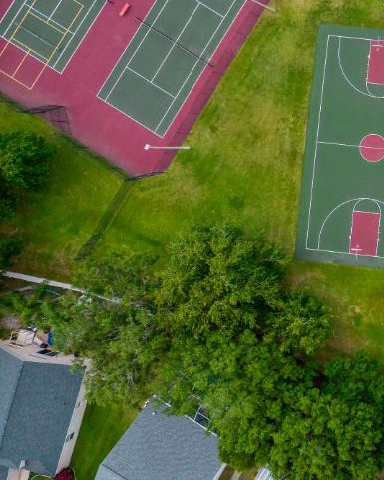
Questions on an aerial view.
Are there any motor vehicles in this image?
No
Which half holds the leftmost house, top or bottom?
bottom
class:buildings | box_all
[95,401,233,480]
[0,337,96,480]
